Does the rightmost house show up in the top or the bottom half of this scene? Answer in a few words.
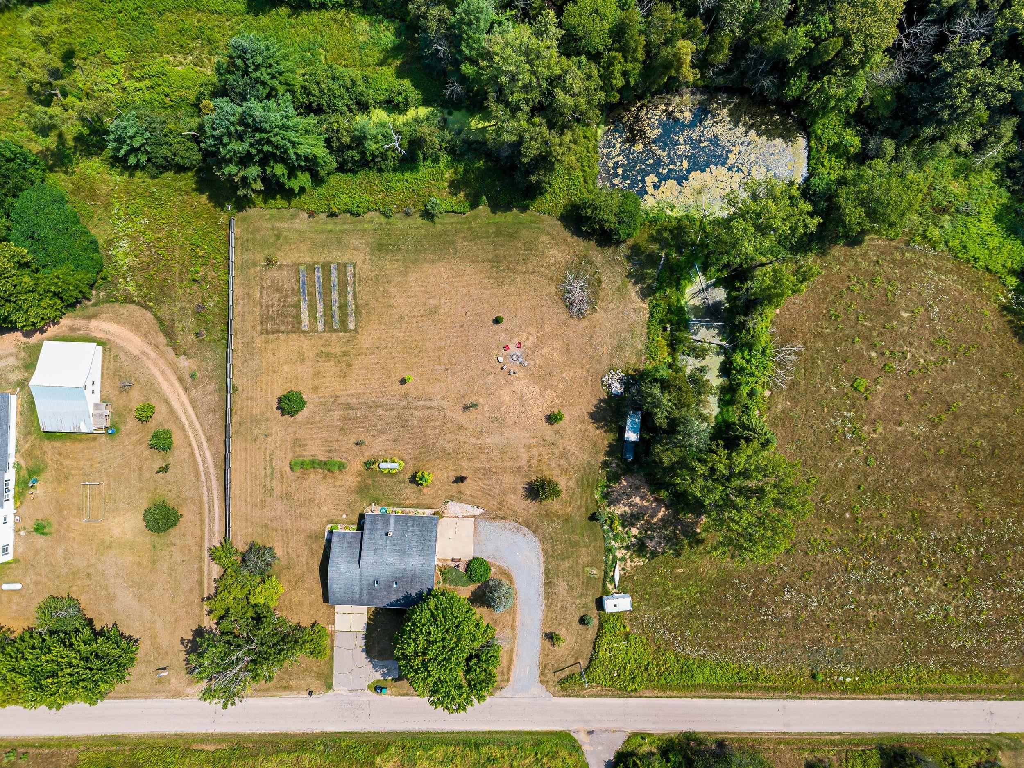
bottom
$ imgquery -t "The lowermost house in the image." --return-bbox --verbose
[328,504,439,610]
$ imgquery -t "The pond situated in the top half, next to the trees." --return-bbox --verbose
[597,93,808,216]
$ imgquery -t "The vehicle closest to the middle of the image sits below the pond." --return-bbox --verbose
[622,408,642,459]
